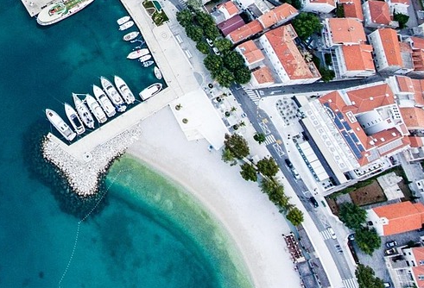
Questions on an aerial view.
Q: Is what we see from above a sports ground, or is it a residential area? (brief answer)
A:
residential area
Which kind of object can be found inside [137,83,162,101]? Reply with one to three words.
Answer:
boat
